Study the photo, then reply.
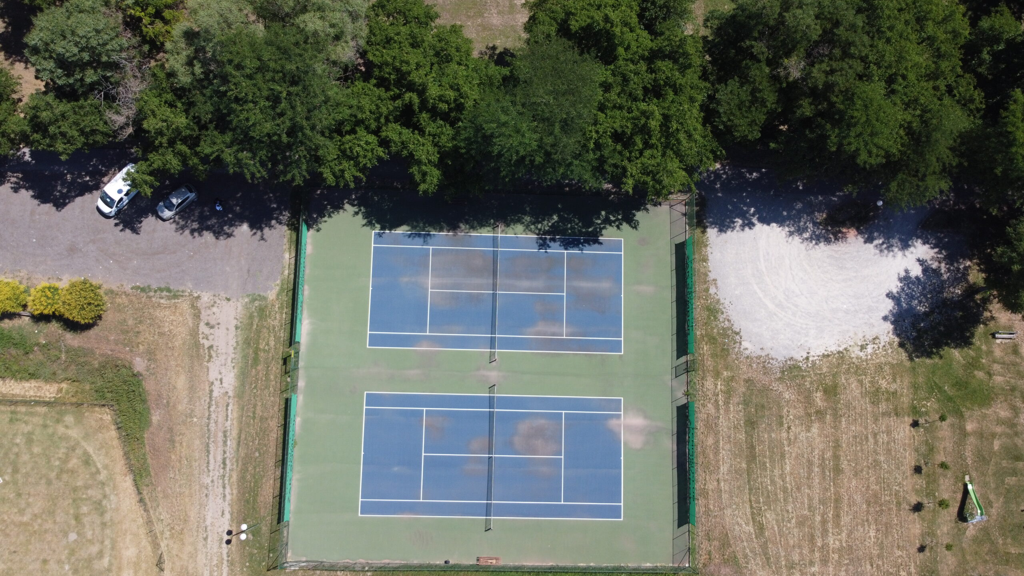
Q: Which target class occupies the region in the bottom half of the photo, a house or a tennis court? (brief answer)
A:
tennis court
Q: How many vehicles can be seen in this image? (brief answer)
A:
two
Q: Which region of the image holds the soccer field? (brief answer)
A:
bottom left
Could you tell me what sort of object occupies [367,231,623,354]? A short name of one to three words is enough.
tennis court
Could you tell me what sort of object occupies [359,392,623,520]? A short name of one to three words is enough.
tennis court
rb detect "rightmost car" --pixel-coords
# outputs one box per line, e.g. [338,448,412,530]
[158,184,201,220]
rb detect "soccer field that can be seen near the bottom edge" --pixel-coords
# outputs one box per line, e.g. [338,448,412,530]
[0,403,162,576]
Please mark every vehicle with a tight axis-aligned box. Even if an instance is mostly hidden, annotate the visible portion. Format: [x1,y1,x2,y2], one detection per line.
[98,172,140,217]
[158,184,201,220]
